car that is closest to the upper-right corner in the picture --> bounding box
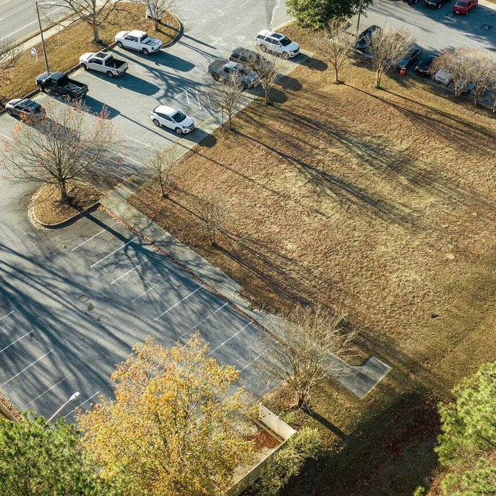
[449,0,480,17]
